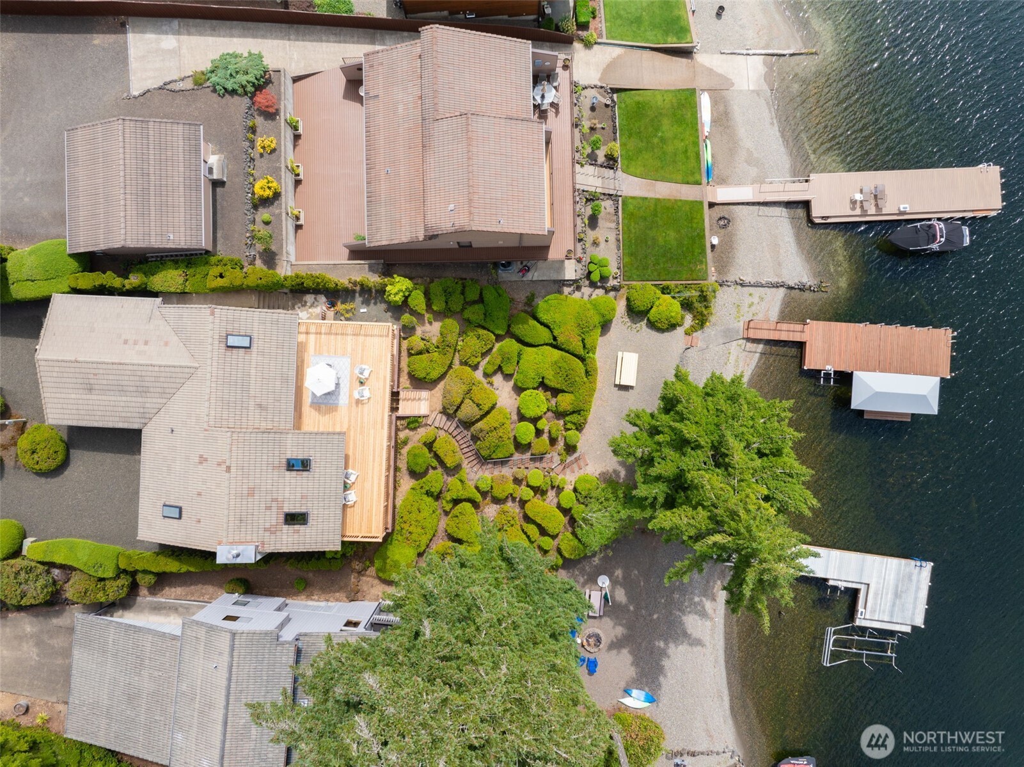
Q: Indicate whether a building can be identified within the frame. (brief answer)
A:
Yes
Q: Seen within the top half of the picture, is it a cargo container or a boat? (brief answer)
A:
boat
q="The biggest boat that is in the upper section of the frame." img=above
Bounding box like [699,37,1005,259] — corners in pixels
[880,212,966,257]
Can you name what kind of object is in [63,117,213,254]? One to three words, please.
building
